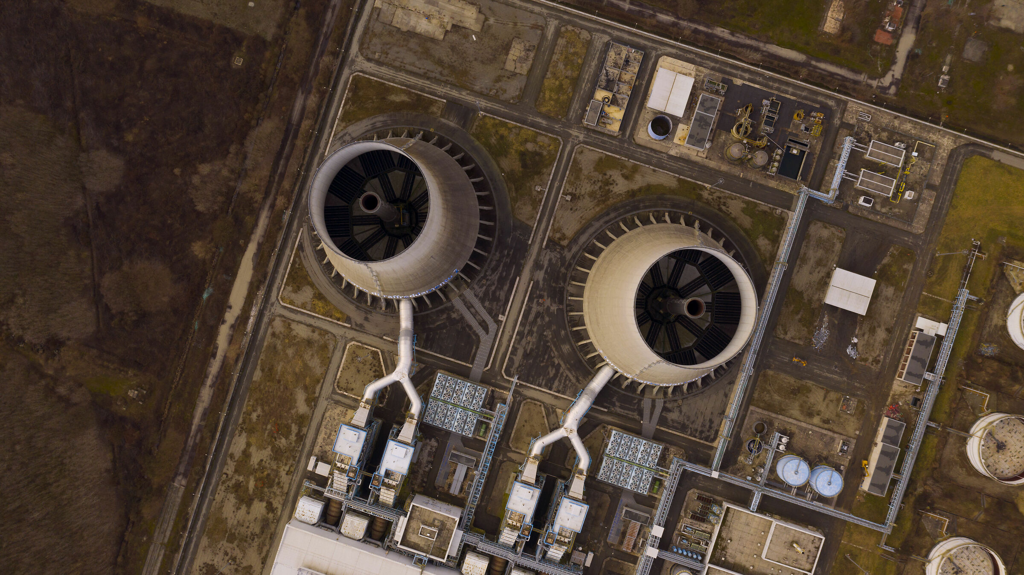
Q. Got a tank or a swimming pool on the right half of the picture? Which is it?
tank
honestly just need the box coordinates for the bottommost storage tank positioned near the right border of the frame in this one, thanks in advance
[920,532,1006,575]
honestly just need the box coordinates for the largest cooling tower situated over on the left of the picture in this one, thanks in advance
[306,125,497,315]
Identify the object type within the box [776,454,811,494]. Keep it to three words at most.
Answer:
storage tank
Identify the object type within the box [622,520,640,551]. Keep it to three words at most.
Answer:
shed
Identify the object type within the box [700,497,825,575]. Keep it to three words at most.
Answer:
building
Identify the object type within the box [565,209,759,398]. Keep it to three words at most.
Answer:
cooling tower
